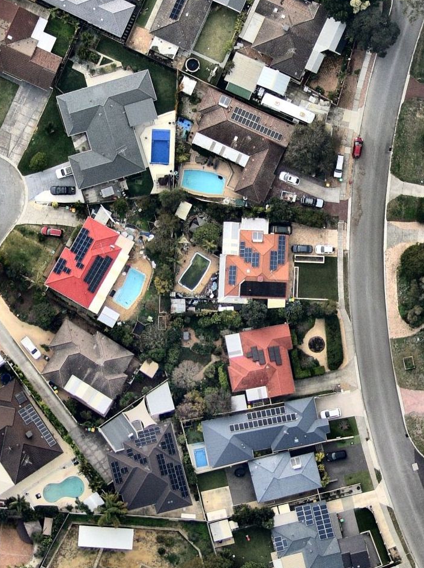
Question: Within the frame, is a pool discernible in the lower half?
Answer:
Yes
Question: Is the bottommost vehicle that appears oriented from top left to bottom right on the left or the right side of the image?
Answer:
left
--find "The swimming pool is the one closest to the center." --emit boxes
[177,253,212,291]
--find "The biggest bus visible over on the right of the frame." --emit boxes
[258,91,317,122]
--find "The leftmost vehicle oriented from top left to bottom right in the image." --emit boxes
[19,337,41,359]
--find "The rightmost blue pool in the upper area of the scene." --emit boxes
[182,169,226,195]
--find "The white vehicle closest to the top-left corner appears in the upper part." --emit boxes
[52,166,72,180]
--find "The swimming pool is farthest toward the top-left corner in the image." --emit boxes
[150,129,170,165]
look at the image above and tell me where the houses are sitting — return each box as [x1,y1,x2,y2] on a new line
[0,381,62,495]
[224,0,345,99]
[224,323,295,412]
[54,69,156,189]
[41,320,133,417]
[43,0,134,37]
[139,0,213,59]
[218,218,290,308]
[271,503,370,568]
[201,396,330,469]
[43,217,133,314]
[247,452,323,504]
[189,88,294,203]
[97,397,192,514]
[0,0,61,88]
